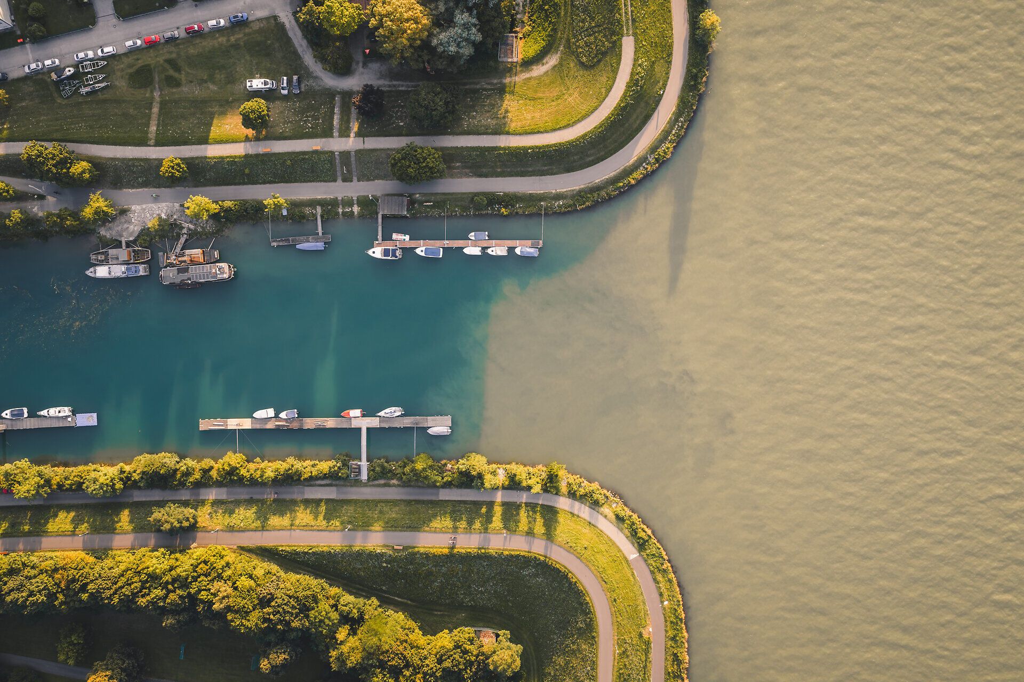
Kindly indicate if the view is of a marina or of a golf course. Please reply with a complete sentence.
It's a marina.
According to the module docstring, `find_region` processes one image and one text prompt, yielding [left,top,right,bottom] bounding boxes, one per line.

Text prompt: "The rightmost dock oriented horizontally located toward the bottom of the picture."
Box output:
[199,415,452,431]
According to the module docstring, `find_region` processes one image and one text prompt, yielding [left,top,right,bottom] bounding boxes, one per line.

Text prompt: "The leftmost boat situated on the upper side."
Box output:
[46,65,73,80]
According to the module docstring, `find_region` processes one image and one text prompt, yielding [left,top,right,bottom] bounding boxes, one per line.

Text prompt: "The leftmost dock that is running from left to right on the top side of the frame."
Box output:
[271,234,331,246]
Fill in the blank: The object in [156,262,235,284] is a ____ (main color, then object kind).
gray boat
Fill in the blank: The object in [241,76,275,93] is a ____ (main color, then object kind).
white vehicle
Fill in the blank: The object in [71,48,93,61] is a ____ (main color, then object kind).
white vehicle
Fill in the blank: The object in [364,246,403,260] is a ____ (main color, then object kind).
white boat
